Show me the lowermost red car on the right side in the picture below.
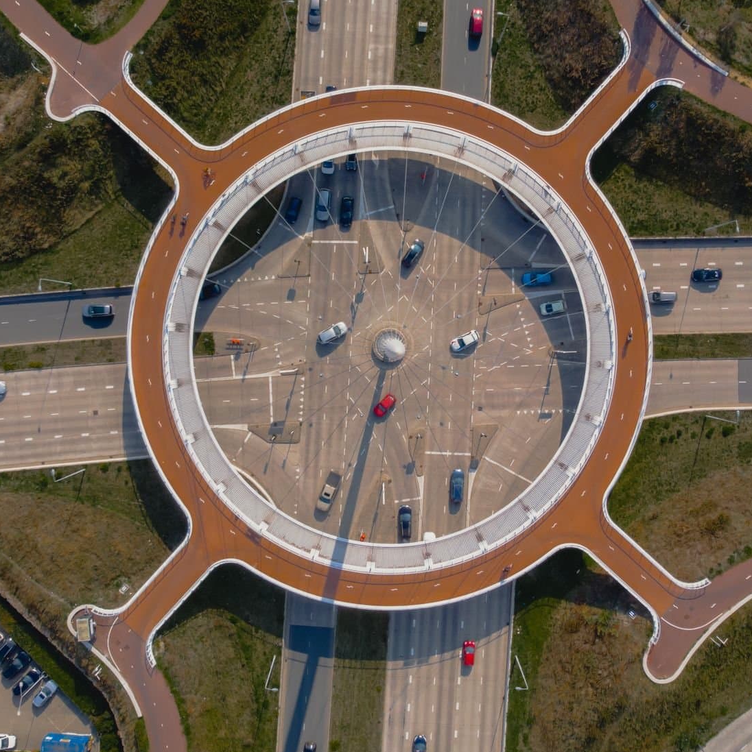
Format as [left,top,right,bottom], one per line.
[463,641,477,667]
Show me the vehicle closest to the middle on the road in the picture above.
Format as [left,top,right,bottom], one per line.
[371,393,396,420]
